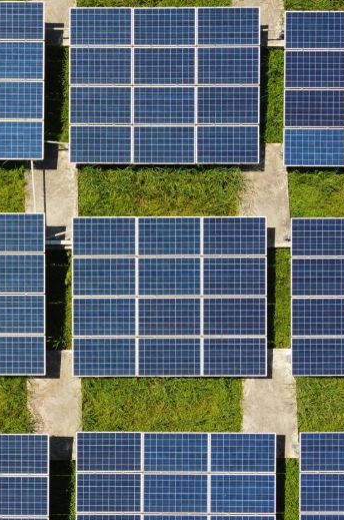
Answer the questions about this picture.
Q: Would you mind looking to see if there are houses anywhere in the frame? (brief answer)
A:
No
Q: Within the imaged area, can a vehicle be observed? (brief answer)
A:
No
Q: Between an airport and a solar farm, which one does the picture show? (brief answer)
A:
solar farm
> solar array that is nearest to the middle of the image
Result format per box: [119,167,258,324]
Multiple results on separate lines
[68,217,267,376]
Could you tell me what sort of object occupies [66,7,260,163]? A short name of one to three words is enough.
solar array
